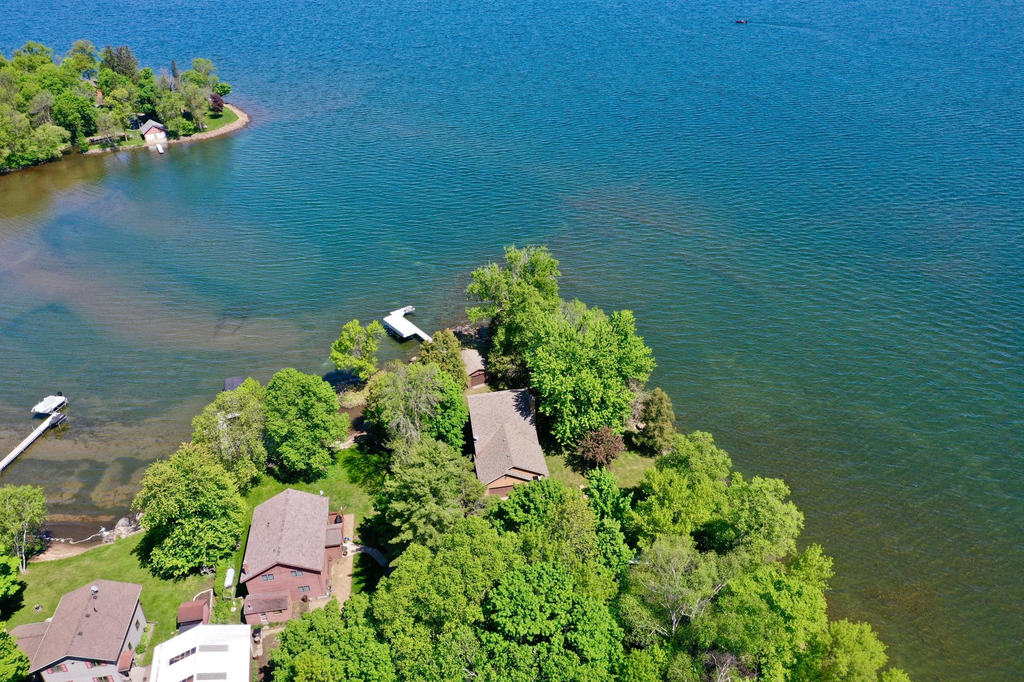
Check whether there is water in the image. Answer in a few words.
Yes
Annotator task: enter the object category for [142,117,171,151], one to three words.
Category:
building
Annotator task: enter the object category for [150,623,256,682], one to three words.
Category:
barn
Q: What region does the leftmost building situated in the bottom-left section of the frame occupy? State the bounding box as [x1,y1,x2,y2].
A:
[11,577,151,682]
